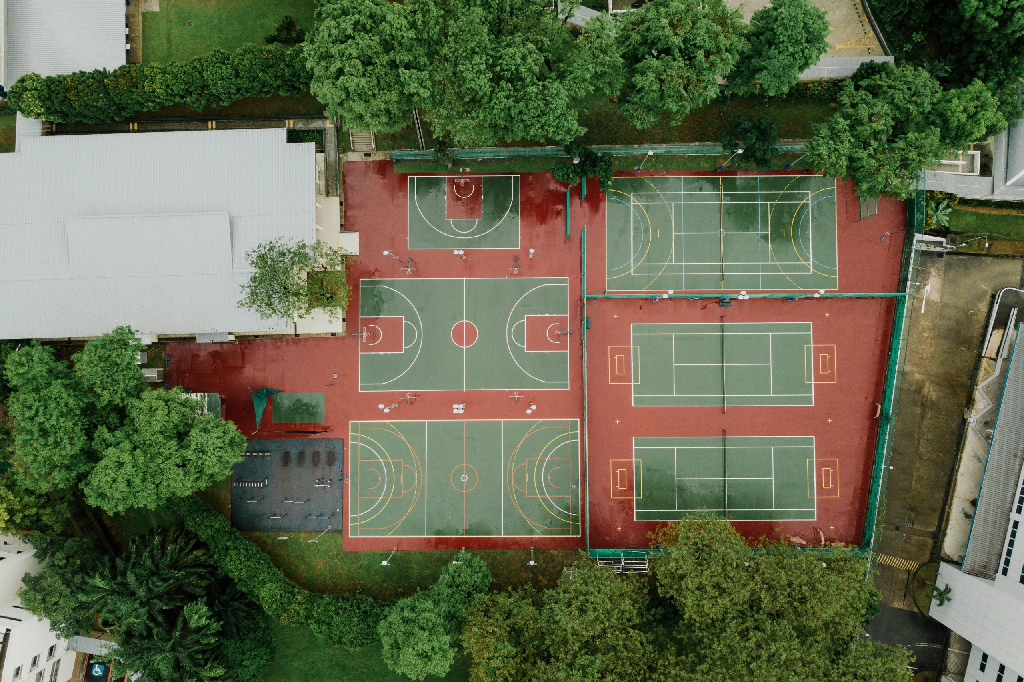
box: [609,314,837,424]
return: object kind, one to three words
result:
tennis court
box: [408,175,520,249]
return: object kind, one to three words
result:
basketball court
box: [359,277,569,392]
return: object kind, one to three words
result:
basketball court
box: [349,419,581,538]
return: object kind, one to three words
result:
sports court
